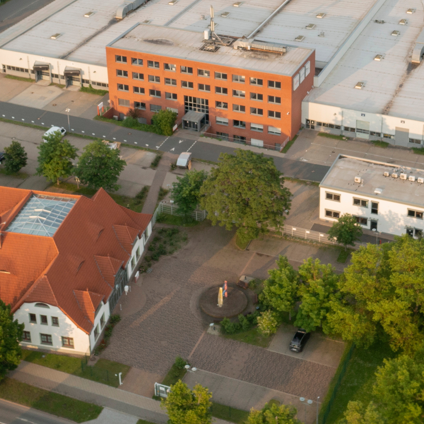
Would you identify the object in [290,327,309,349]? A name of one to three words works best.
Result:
car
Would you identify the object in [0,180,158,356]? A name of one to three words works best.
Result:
house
